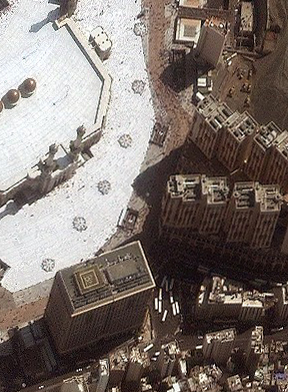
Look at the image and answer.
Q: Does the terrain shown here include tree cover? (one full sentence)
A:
No, tree cover can't be seen anywhere here.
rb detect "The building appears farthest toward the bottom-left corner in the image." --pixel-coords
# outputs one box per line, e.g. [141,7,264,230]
[0,320,66,392]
